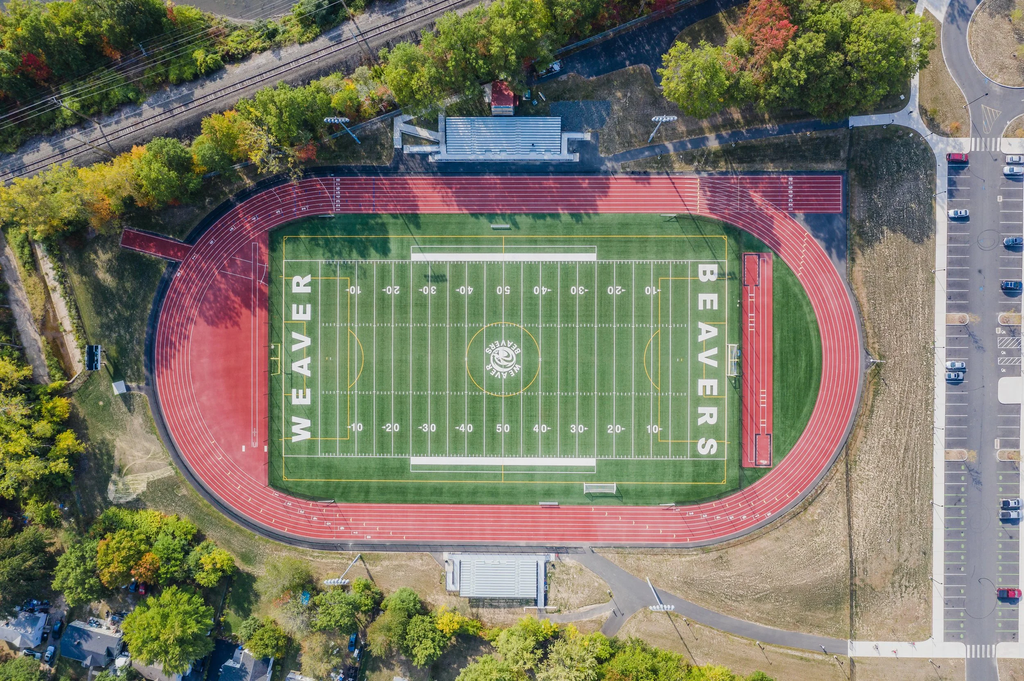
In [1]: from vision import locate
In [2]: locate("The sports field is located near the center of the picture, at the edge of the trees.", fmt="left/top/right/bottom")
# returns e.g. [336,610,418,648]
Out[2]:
[268,212,824,506]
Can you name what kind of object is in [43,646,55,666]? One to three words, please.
vehicle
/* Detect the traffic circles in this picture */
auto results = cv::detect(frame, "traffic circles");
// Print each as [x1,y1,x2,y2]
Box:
[942,0,1024,143]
